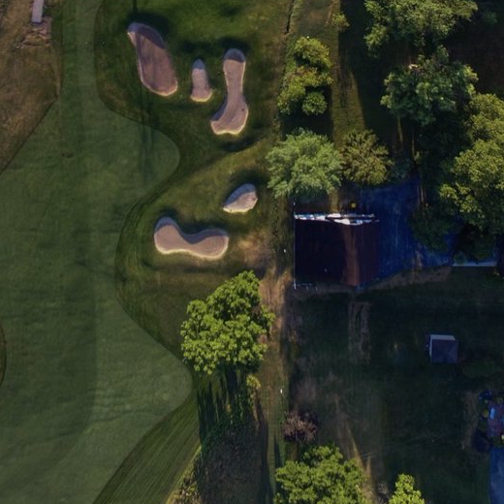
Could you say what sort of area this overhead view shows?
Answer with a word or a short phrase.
golf course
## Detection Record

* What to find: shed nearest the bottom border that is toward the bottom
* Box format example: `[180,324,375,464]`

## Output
[428,334,457,364]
